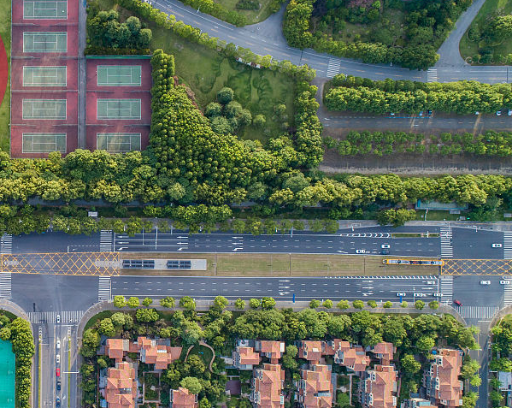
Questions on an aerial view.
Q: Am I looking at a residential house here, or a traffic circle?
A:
residential house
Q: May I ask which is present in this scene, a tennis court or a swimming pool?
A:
tennis court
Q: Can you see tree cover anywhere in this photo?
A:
Yes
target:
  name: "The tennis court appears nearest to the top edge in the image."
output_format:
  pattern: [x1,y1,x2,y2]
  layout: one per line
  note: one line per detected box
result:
[22,0,66,19]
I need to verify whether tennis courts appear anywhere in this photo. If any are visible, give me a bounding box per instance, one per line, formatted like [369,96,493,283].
[22,32,66,52]
[97,65,141,85]
[22,66,66,86]
[22,132,66,152]
[22,99,66,119]
[22,0,66,19]
[97,99,141,119]
[97,132,141,152]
